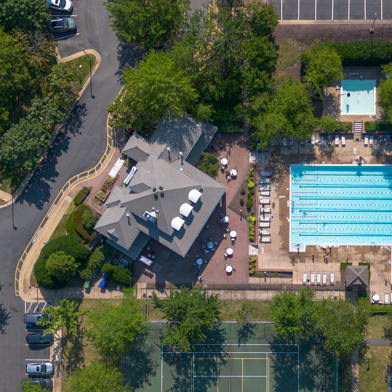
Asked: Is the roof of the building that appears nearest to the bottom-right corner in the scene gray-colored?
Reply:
Yes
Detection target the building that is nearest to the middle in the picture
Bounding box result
[94,108,227,261]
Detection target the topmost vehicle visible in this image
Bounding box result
[44,0,73,13]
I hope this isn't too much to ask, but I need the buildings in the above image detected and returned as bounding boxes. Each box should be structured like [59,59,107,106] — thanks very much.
[346,265,370,287]
[94,108,227,261]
